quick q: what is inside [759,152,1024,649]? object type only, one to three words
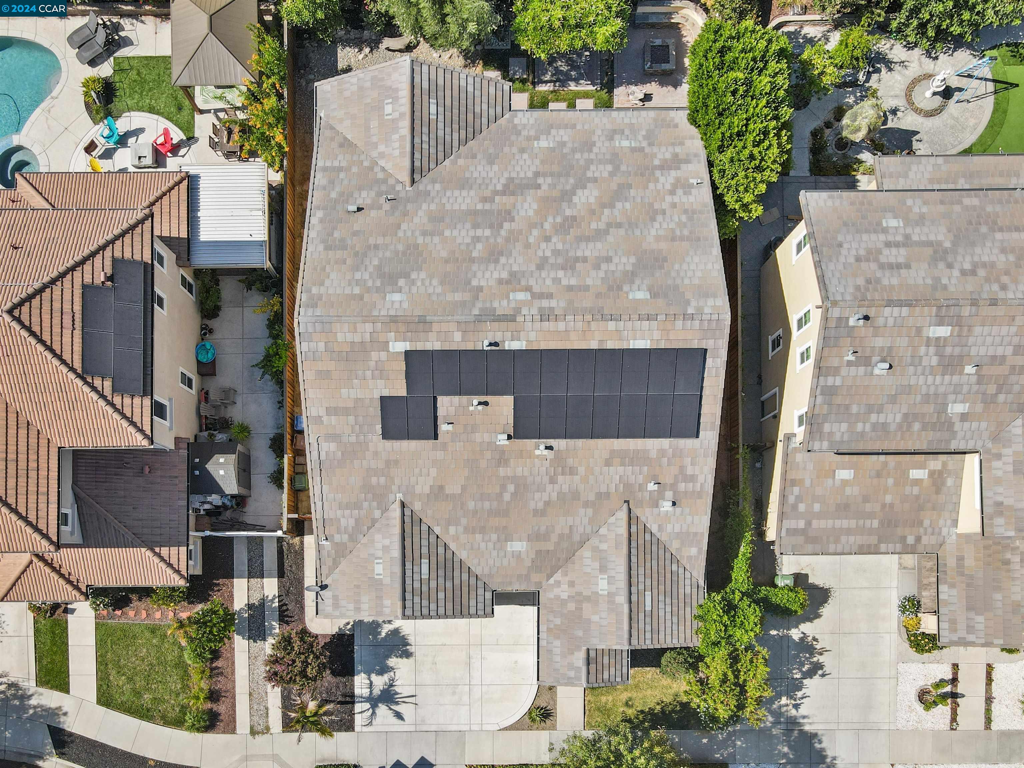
house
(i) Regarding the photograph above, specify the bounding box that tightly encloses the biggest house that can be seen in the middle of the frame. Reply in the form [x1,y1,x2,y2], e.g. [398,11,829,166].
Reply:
[294,54,730,687]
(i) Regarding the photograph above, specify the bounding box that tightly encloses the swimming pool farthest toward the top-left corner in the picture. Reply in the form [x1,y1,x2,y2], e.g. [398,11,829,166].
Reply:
[0,28,68,138]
